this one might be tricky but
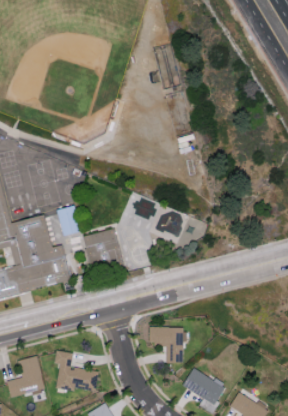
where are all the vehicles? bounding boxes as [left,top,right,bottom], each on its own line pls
[194,396,202,402]
[194,286,204,291]
[14,208,25,213]
[88,313,98,318]
[159,293,170,300]
[130,394,136,402]
[52,322,62,326]
[221,280,230,285]
[227,408,234,416]
[184,389,192,398]
[115,362,122,374]
[74,354,85,358]
[2,368,8,378]
[8,364,13,374]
